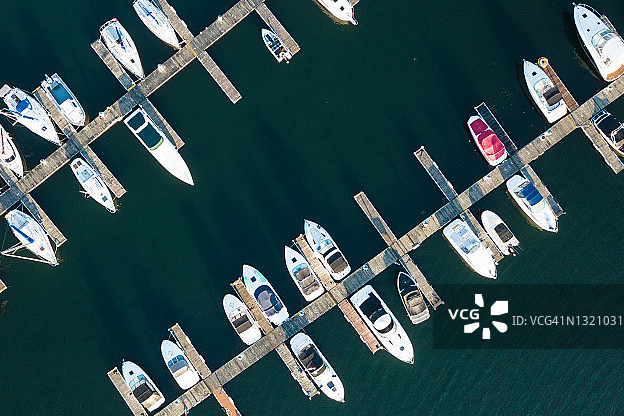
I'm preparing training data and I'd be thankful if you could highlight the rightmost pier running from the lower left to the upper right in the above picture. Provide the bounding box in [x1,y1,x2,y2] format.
[352,76,624,288]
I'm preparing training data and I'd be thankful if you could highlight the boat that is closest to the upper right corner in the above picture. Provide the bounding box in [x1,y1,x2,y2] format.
[569,0,624,84]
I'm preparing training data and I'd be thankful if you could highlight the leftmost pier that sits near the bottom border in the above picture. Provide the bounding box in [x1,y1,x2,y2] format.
[108,367,150,416]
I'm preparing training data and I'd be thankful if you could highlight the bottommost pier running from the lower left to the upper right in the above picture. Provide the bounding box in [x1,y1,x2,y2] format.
[152,275,361,416]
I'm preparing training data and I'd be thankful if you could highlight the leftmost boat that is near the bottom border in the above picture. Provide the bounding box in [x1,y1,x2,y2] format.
[119,361,166,415]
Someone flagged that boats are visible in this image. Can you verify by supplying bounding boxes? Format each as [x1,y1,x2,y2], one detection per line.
[590,106,624,154]
[478,210,522,254]
[124,105,194,185]
[71,156,116,213]
[42,72,84,128]
[224,285,266,342]
[290,330,345,405]
[134,0,187,48]
[521,59,569,123]
[316,0,357,26]
[285,242,327,300]
[3,203,59,265]
[119,361,166,415]
[441,217,499,279]
[103,22,147,83]
[300,219,351,282]
[162,330,203,389]
[569,0,624,84]
[1,82,66,144]
[238,264,291,328]
[469,115,512,165]
[399,259,433,322]
[501,172,562,234]
[349,278,415,365]
[0,125,28,178]
[262,24,292,62]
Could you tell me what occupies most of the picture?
water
